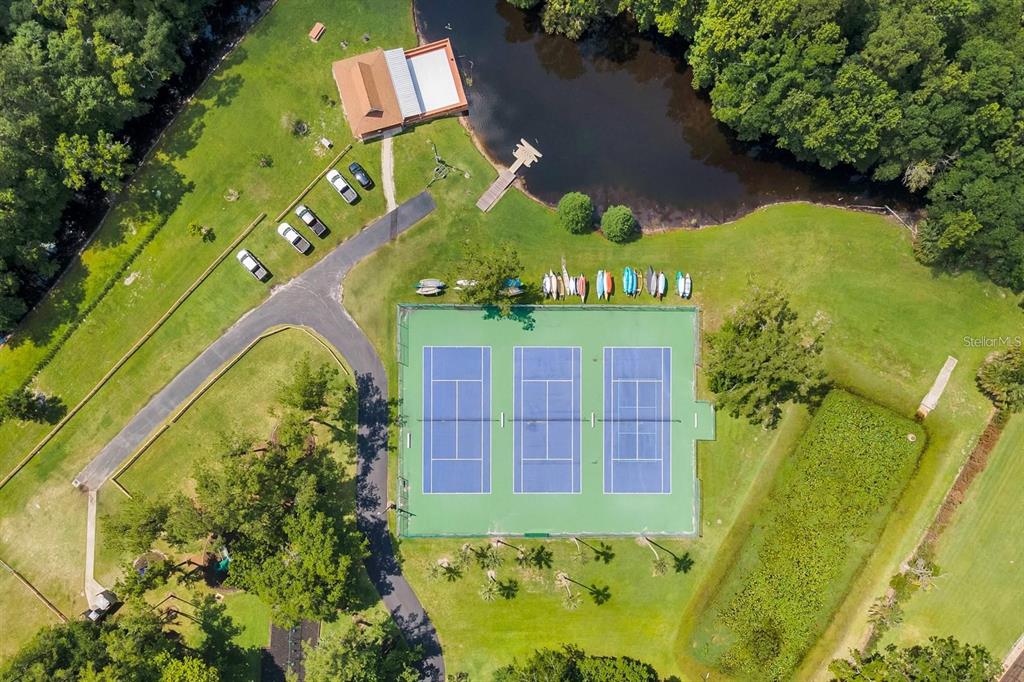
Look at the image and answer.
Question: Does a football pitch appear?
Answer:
No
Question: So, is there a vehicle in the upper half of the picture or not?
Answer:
Yes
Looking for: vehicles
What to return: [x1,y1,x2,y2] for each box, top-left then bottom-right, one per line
[325,167,357,205]
[277,220,308,257]
[349,161,373,189]
[295,202,326,239]
[236,248,267,283]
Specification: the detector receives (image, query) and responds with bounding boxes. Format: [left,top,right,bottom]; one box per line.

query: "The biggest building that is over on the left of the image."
[332,37,468,145]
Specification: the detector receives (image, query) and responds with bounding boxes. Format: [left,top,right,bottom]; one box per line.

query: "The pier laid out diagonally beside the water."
[476,140,541,213]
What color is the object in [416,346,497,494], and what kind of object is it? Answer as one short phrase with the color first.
blue tennis court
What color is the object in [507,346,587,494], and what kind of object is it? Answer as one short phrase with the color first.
blue tennis court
